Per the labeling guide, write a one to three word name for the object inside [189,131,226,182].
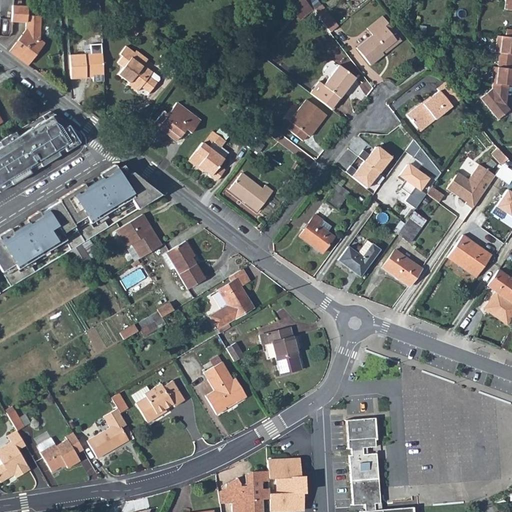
house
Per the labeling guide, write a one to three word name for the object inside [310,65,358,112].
house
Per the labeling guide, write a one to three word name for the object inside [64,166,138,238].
building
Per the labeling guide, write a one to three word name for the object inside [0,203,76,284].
building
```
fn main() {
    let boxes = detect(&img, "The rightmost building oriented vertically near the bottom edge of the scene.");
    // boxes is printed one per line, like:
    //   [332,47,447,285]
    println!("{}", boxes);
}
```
[342,418,384,505]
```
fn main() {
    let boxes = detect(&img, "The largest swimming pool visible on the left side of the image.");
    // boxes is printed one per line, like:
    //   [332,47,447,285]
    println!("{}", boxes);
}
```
[120,266,148,290]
